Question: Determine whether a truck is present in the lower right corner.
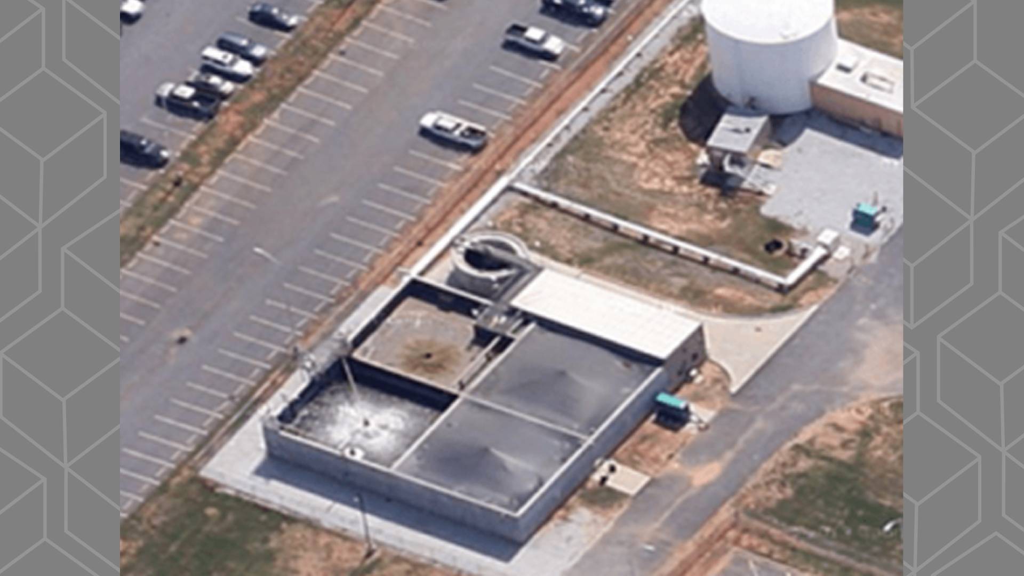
No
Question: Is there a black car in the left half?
Yes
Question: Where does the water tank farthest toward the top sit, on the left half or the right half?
right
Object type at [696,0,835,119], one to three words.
water tank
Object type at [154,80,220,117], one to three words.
truck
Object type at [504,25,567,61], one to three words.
truck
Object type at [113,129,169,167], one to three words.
car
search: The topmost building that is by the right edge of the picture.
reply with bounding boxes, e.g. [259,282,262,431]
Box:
[811,42,1024,179]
